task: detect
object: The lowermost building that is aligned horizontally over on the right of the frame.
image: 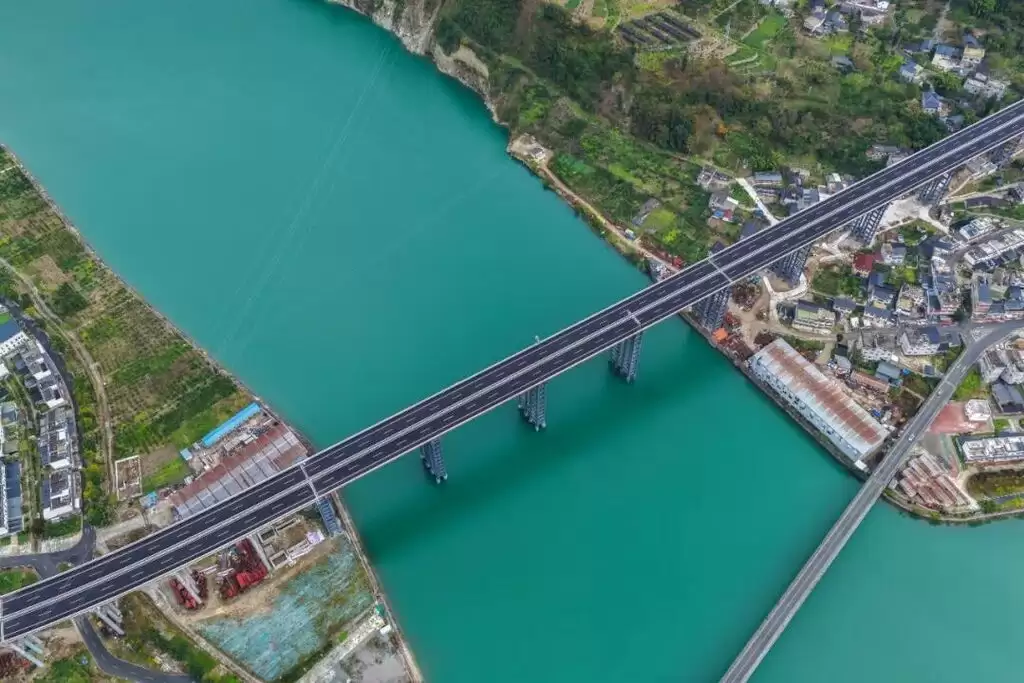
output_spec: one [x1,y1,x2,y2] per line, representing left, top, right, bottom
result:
[957,438,1024,473]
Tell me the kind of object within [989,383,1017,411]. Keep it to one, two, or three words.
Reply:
building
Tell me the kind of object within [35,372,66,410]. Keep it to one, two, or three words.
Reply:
house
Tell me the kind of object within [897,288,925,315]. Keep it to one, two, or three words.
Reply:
house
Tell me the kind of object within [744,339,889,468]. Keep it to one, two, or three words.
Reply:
building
